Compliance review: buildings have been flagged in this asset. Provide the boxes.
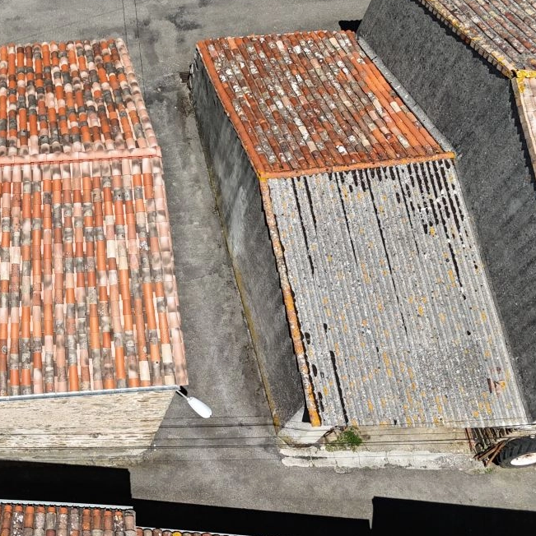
[187,25,524,443]
[0,35,193,451]
[0,502,143,536]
